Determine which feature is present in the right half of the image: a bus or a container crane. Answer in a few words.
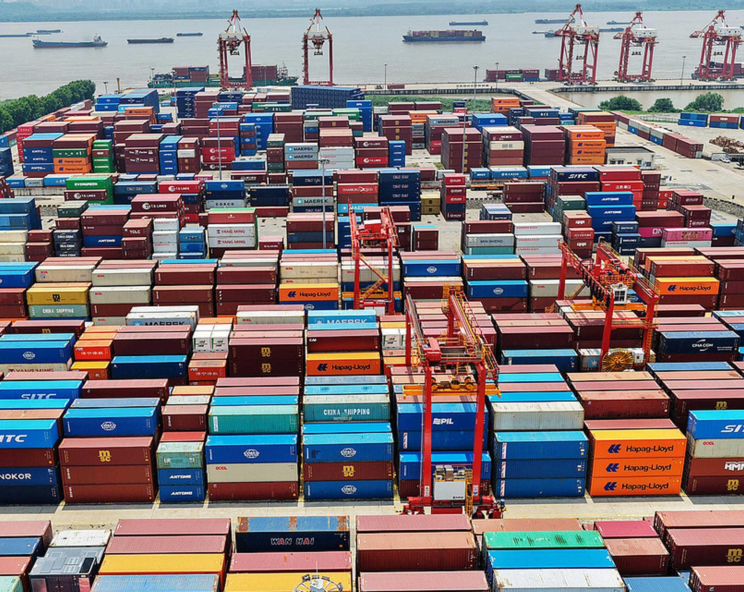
container crane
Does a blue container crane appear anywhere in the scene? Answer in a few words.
No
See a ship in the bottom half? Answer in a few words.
No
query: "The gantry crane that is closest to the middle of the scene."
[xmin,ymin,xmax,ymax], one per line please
[339,202,402,330]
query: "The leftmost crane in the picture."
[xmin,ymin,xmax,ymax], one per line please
[220,10,256,89]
